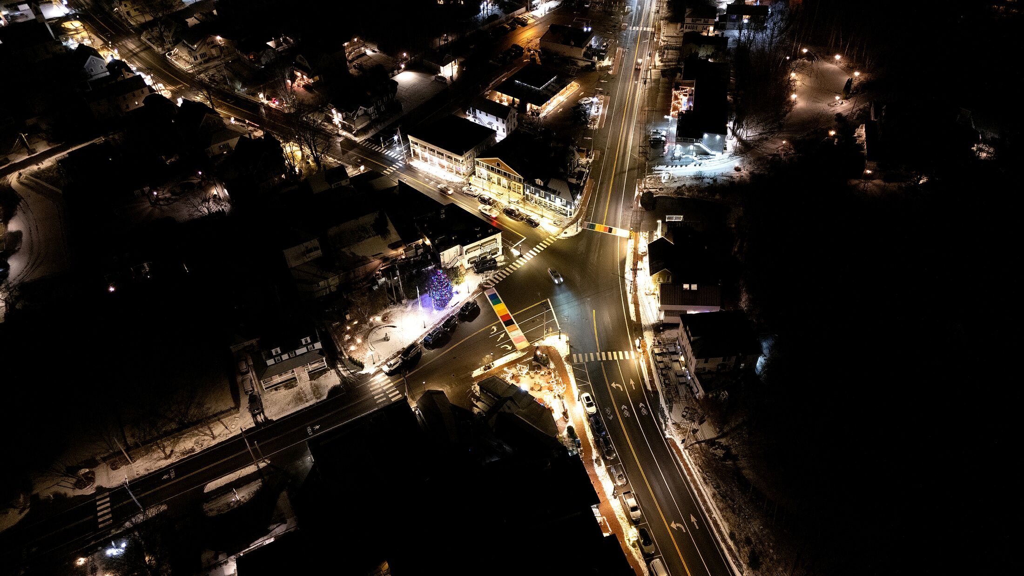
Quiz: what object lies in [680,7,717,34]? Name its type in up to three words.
house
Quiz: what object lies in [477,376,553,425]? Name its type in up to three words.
building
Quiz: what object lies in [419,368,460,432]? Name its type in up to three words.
barn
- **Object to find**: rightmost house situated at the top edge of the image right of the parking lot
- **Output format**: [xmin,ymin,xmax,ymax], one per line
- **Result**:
[718,2,772,30]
